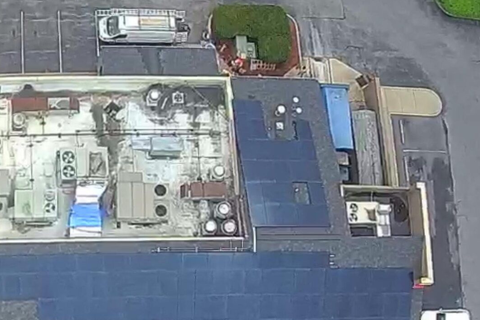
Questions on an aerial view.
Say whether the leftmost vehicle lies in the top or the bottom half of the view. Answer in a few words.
top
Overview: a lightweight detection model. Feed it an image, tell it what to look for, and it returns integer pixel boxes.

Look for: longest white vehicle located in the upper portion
[100,10,186,46]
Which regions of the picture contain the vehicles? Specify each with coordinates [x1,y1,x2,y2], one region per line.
[423,308,474,320]
[100,10,186,46]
